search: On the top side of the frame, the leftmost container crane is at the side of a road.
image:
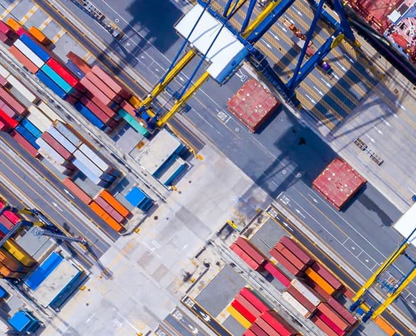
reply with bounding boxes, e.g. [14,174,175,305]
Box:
[134,0,366,135]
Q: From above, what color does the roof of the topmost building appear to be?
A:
white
